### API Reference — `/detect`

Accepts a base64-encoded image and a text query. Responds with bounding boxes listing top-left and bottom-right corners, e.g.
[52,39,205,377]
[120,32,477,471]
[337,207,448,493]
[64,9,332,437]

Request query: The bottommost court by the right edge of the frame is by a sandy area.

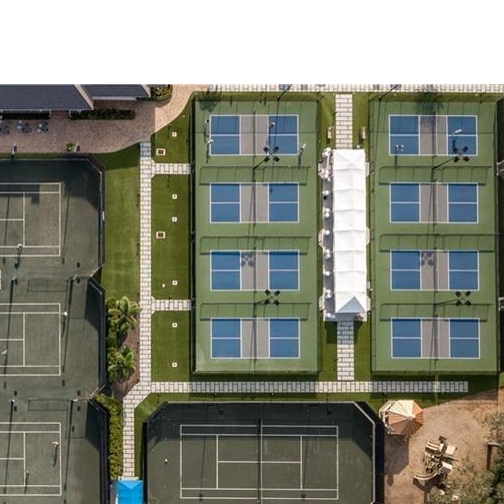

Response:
[370,304,497,371]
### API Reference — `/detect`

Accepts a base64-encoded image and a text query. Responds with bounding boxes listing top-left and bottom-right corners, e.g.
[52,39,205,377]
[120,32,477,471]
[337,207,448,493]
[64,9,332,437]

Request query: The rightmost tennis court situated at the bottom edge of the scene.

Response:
[147,403,373,504]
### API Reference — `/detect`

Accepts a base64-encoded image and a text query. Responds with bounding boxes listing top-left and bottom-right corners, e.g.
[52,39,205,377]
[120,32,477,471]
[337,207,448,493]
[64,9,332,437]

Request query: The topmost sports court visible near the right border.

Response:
[370,101,497,169]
